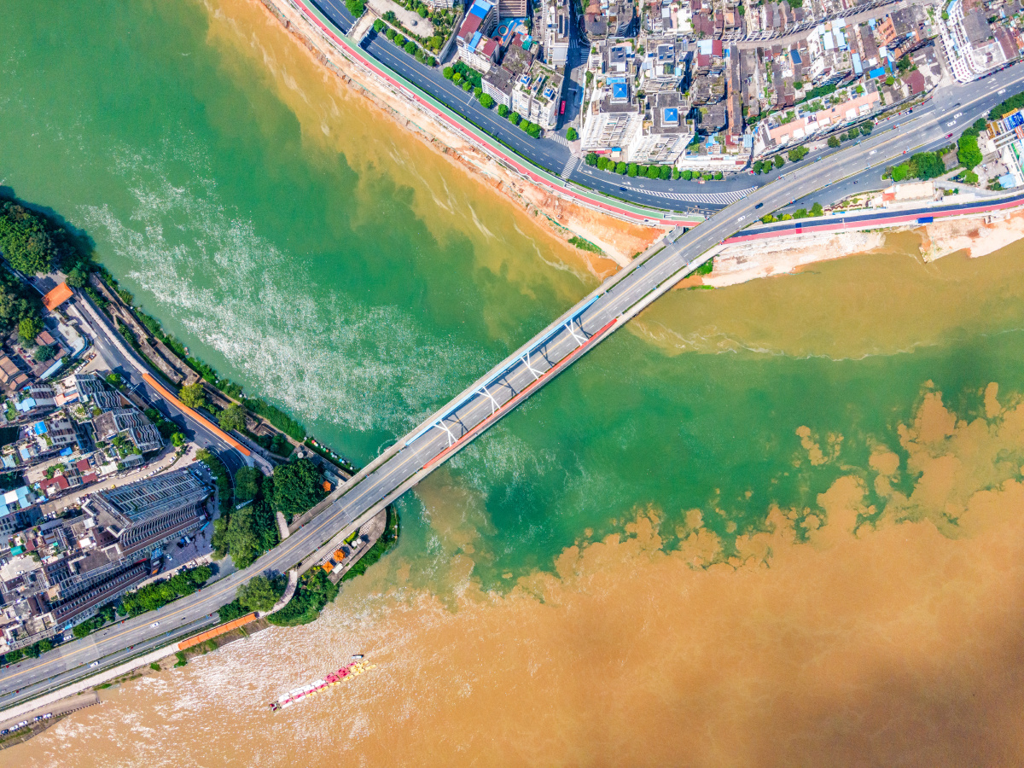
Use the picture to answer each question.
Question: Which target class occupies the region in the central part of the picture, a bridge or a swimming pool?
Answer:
bridge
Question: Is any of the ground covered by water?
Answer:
Yes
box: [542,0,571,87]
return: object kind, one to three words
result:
building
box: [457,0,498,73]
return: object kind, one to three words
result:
building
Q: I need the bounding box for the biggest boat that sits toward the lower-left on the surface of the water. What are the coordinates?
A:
[267,700,280,713]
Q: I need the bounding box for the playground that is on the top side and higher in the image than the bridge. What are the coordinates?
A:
[491,19,531,48]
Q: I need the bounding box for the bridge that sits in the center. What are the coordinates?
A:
[280,121,913,567]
